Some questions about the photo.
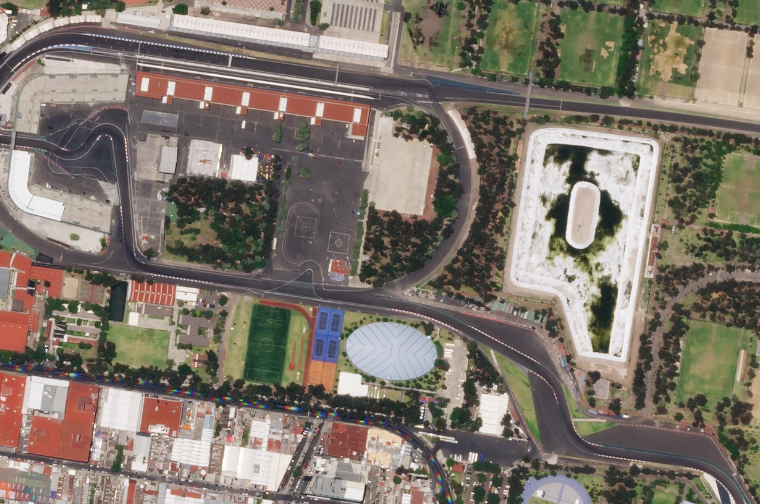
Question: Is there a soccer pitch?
Yes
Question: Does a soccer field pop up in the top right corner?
Yes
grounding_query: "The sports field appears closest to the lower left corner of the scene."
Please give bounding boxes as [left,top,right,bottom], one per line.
[110,324,170,370]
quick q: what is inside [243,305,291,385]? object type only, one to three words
soccer field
